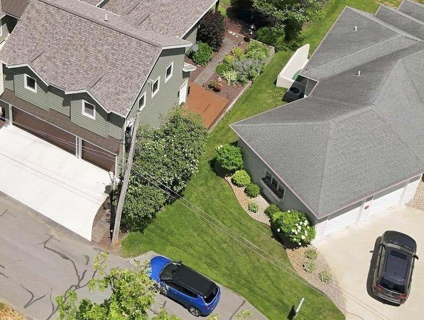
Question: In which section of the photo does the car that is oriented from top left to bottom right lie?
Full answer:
The car that is oriented from top left to bottom right is in the bottom part of the image.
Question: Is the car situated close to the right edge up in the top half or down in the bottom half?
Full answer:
The car situated close to the right edge sits in the bottom half of the picture.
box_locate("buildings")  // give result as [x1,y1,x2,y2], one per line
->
[228,0,424,242]
[0,0,220,167]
